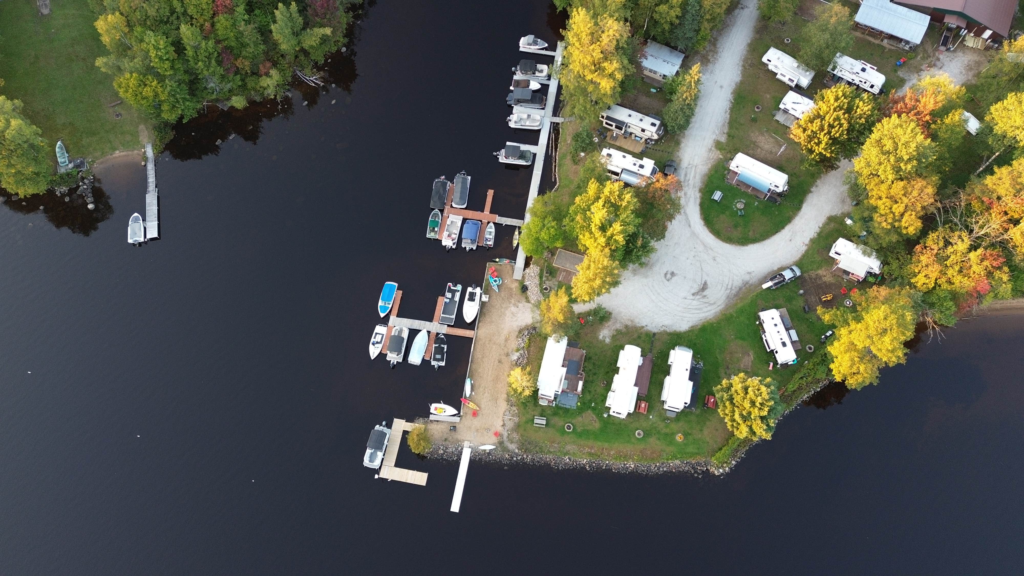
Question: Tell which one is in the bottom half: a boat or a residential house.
boat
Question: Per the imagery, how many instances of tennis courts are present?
zero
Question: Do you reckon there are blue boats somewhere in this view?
Yes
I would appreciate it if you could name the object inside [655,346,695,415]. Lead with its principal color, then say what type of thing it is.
white vehicle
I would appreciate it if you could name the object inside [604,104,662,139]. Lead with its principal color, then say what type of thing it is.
white vehicle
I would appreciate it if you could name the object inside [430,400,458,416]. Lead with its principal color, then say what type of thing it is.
white boat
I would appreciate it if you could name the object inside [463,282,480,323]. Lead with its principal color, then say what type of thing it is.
white boat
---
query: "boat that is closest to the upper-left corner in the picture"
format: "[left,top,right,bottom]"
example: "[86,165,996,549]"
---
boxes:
[55,141,68,167]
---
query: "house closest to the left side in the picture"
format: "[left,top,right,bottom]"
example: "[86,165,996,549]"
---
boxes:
[644,42,685,82]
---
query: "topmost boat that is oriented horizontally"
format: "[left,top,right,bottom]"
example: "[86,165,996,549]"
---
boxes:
[517,36,548,50]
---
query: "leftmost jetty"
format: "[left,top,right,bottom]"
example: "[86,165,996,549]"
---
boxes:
[145,145,161,240]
